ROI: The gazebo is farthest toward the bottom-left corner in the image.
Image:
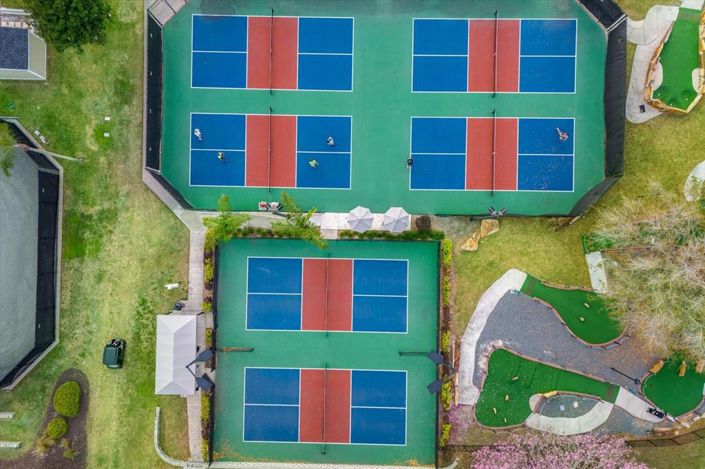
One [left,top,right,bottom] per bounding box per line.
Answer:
[155,312,204,394]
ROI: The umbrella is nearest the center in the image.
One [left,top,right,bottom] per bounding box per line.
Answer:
[346,205,375,234]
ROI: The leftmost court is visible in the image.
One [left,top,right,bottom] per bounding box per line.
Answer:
[0,121,56,375]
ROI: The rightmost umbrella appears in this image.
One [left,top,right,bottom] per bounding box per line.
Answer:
[382,205,410,233]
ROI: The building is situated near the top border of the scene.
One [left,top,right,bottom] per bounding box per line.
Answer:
[0,3,48,80]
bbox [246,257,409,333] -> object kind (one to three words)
sports court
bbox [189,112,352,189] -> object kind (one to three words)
sports court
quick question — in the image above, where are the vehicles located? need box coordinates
[103,335,127,368]
[647,406,669,421]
